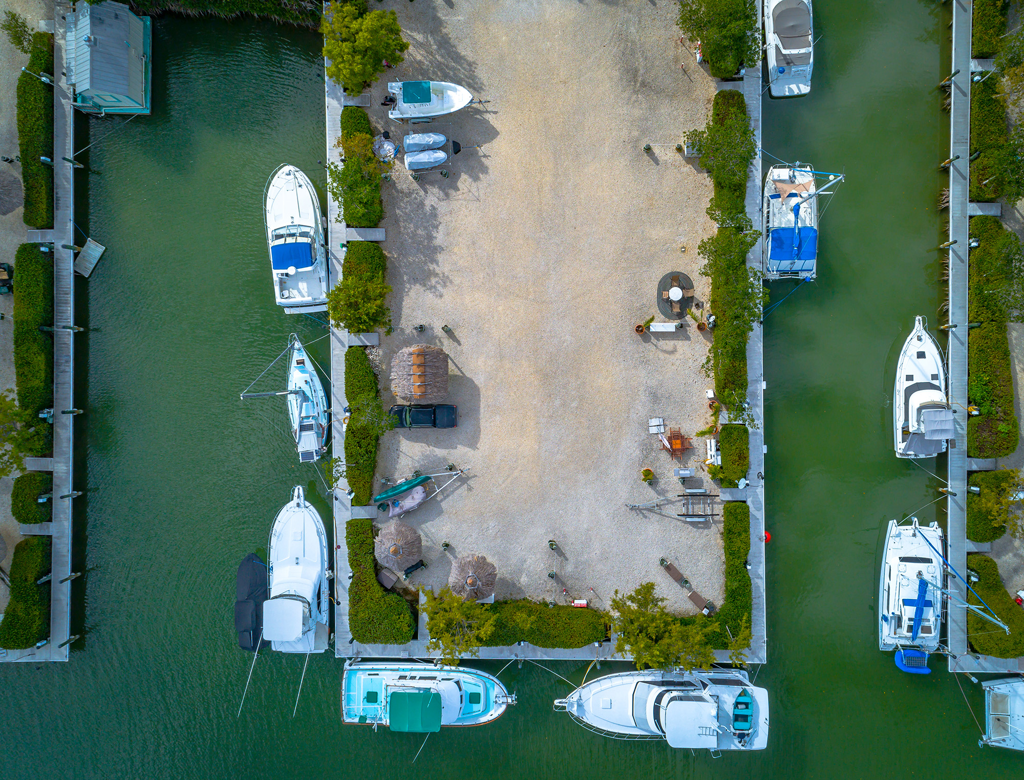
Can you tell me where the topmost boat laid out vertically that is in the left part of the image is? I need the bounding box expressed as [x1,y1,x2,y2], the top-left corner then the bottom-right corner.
[263,163,330,314]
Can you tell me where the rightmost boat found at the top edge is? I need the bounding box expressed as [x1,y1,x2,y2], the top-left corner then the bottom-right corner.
[762,0,822,97]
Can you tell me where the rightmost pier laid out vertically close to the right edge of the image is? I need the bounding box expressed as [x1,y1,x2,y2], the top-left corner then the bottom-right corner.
[946,0,1024,673]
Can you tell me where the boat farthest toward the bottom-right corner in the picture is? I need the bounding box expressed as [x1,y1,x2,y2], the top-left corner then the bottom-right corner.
[979,674,1024,751]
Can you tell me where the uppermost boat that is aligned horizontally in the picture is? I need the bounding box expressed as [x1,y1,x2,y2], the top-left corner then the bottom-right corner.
[380,81,473,120]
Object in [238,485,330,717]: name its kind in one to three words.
boat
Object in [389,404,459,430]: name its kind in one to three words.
truck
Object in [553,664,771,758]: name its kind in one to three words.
boat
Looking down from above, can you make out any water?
Yes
